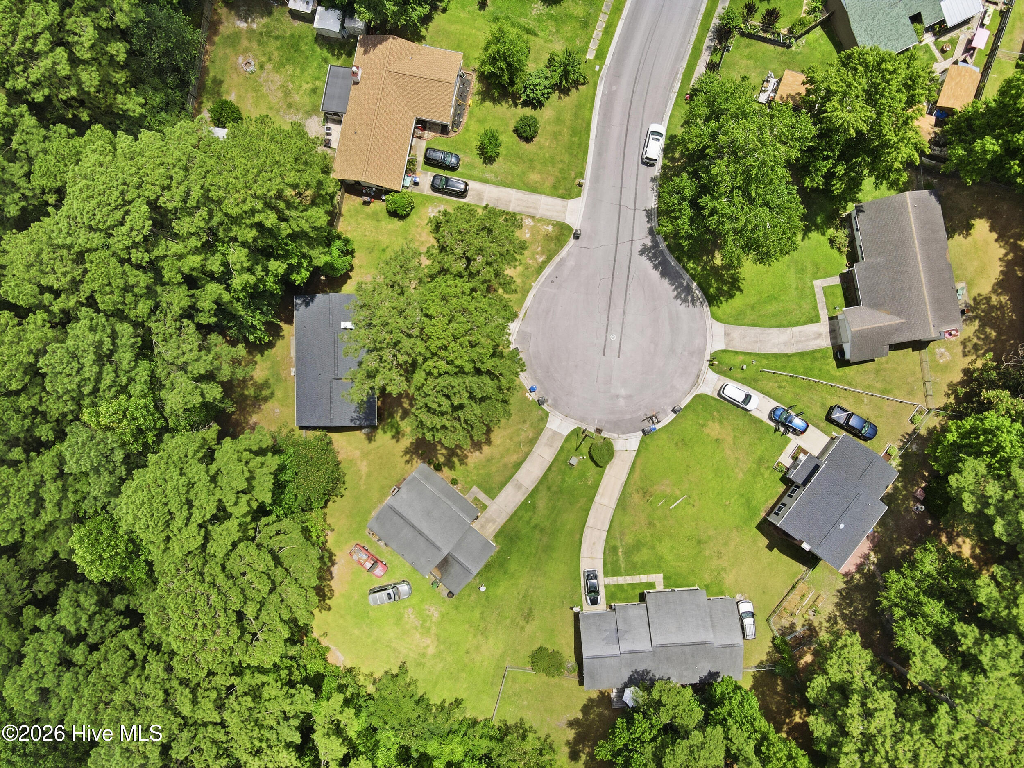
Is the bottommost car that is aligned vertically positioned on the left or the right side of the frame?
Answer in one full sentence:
The bottommost car that is aligned vertically is on the right side of the image.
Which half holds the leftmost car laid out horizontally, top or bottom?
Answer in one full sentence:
You can find the leftmost car laid out horizontally in the bottom half.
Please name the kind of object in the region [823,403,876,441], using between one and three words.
truck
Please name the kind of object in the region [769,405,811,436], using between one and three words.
car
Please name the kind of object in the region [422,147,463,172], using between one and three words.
car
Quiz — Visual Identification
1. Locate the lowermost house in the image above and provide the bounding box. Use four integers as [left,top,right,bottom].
[579,584,743,690]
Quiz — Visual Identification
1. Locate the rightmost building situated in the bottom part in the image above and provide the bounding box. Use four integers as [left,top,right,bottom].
[769,433,899,571]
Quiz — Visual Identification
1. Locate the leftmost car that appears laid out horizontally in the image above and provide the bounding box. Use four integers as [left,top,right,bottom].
[369,580,412,605]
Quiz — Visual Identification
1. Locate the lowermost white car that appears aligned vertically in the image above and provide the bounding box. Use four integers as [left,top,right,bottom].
[737,598,759,640]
